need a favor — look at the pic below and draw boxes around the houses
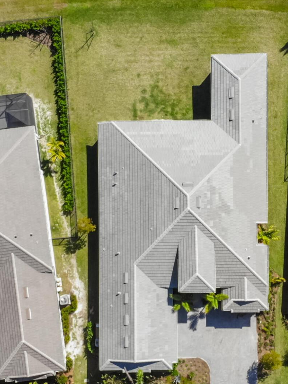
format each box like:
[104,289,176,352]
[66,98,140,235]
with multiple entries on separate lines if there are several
[0,125,68,380]
[99,52,269,373]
